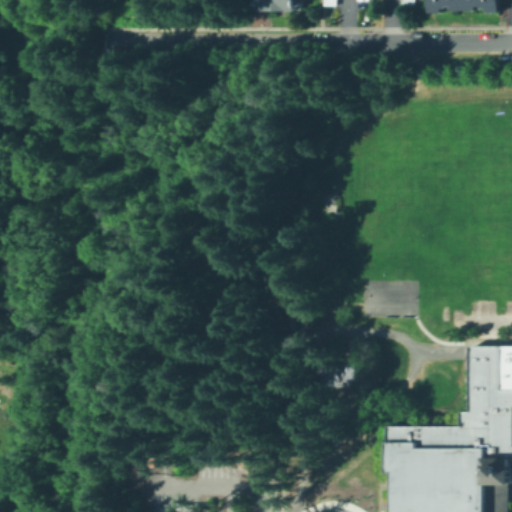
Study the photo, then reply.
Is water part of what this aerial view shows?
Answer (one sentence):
No, there's no water in this view.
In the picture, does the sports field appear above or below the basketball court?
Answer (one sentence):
You can see the sports field above the basketball court in the frame.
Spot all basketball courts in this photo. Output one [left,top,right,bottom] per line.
[363,281,418,316]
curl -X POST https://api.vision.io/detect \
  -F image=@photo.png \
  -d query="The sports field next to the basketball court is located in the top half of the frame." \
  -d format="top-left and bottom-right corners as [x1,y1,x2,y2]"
[348,104,512,274]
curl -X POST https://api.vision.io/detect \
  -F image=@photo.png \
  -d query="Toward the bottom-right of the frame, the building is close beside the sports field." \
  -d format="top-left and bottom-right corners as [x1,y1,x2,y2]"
[383,346,512,512]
